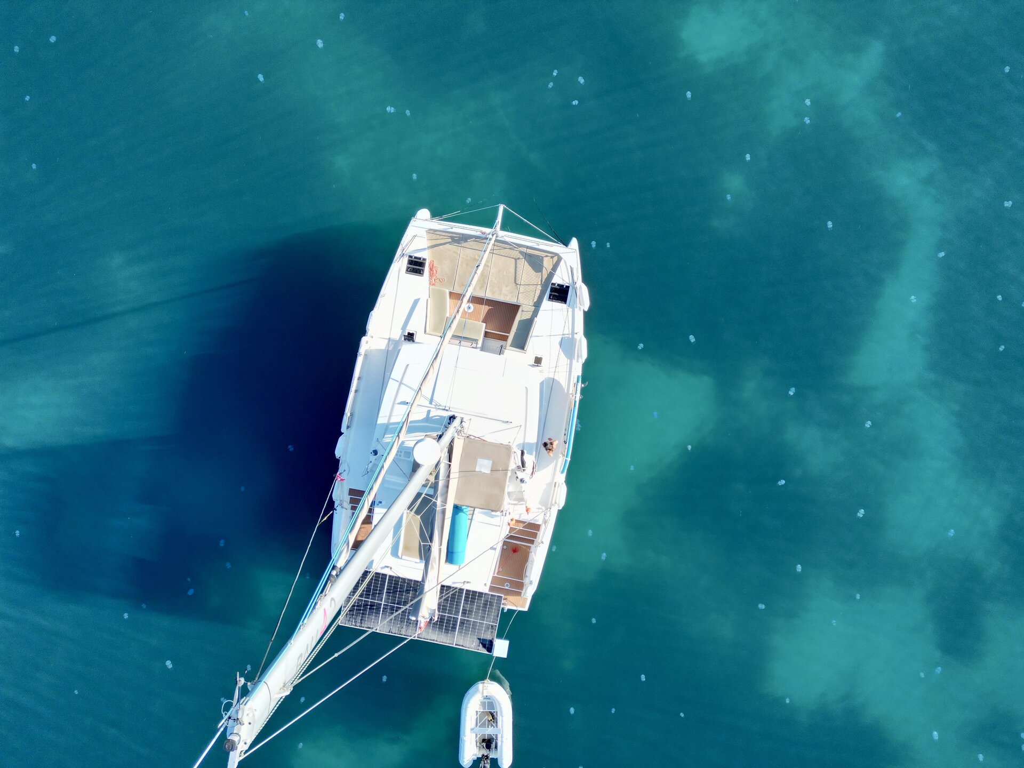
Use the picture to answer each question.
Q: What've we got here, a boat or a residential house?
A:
boat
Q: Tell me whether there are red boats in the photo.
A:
No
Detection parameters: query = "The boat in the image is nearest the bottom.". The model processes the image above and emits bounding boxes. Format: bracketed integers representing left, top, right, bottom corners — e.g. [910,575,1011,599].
[459,682,513,768]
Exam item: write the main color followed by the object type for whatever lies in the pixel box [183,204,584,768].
white boat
